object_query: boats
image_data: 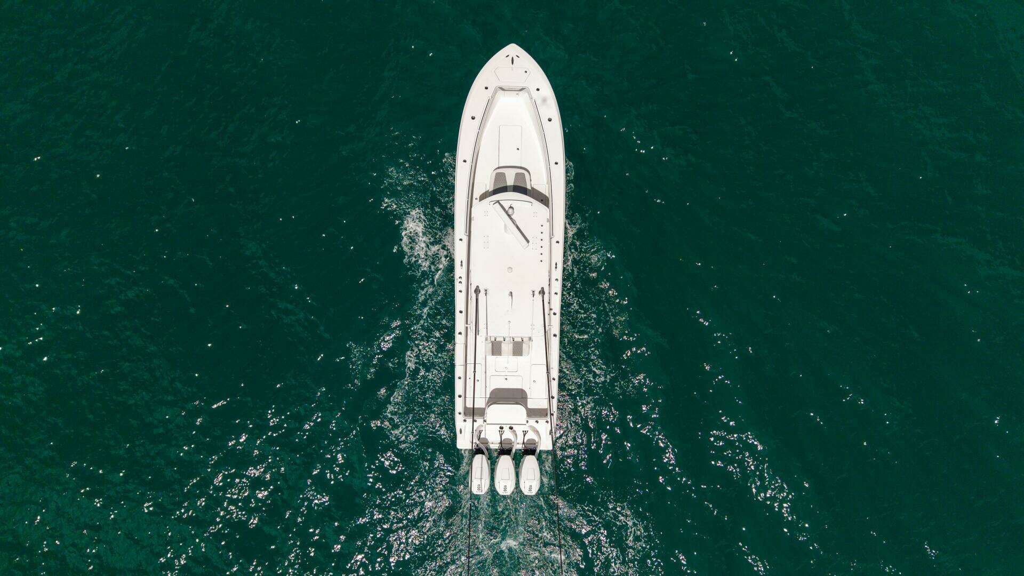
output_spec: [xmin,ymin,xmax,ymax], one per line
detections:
[454,43,565,576]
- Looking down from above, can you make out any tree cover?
No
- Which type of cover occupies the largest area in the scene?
water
